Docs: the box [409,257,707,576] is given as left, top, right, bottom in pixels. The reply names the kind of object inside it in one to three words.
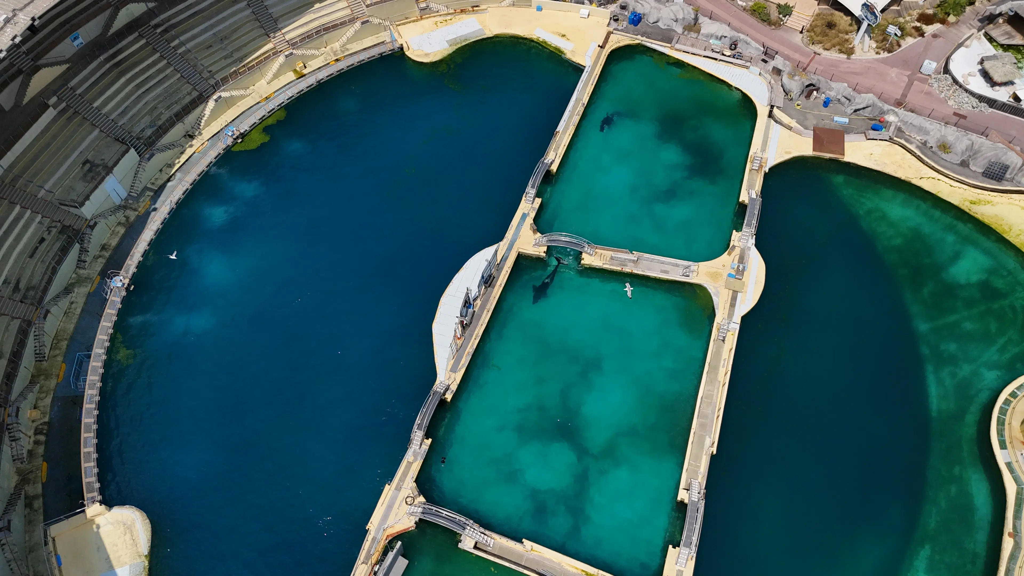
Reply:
swimming pool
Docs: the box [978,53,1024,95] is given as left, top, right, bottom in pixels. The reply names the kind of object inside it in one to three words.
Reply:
shed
